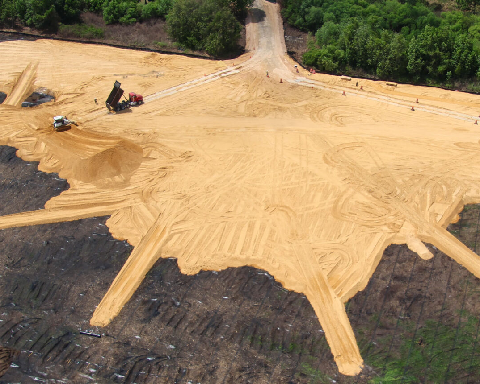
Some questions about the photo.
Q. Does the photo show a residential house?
No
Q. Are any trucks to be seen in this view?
Yes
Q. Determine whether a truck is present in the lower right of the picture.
No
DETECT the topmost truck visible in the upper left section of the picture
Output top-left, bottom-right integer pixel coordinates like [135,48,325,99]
[103,76,142,112]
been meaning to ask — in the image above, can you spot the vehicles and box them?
[51,114,75,131]
[103,76,142,112]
